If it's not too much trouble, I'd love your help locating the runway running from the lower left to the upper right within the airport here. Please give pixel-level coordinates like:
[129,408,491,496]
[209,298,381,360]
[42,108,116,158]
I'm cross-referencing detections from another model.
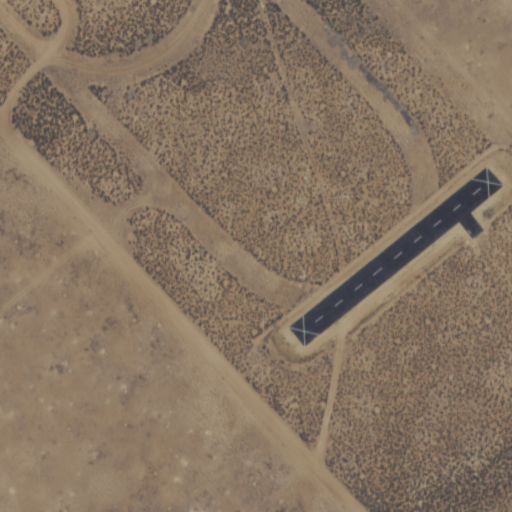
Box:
[290,168,502,346]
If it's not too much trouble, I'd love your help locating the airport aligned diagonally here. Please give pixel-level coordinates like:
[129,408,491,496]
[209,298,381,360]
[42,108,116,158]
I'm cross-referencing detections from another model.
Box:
[268,145,512,360]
